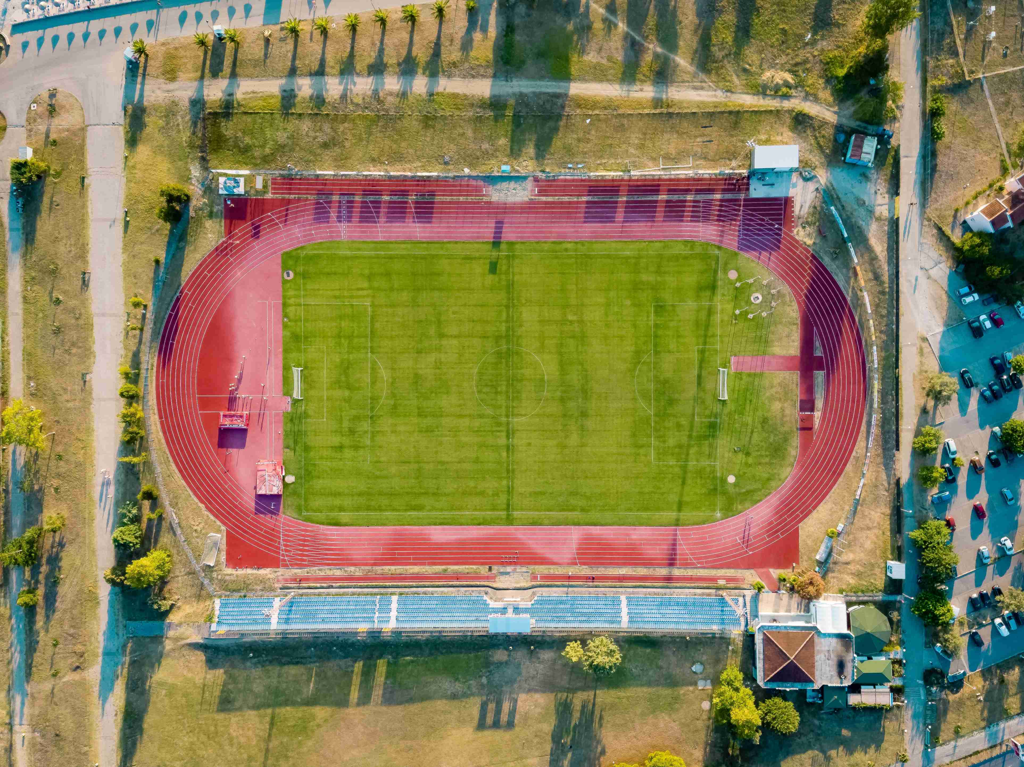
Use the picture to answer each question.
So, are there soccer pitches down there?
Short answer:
Yes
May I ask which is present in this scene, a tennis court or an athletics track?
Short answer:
athletics track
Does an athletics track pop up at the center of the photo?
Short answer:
Yes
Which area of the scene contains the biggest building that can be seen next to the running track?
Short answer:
bottom right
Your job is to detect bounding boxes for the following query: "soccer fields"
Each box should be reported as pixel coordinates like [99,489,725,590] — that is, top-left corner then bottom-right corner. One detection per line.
[282,241,799,525]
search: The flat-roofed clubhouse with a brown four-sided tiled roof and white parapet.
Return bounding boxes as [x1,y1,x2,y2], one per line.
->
[751,619,854,688]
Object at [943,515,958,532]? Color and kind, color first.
red car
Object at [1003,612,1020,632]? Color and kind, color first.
blue car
